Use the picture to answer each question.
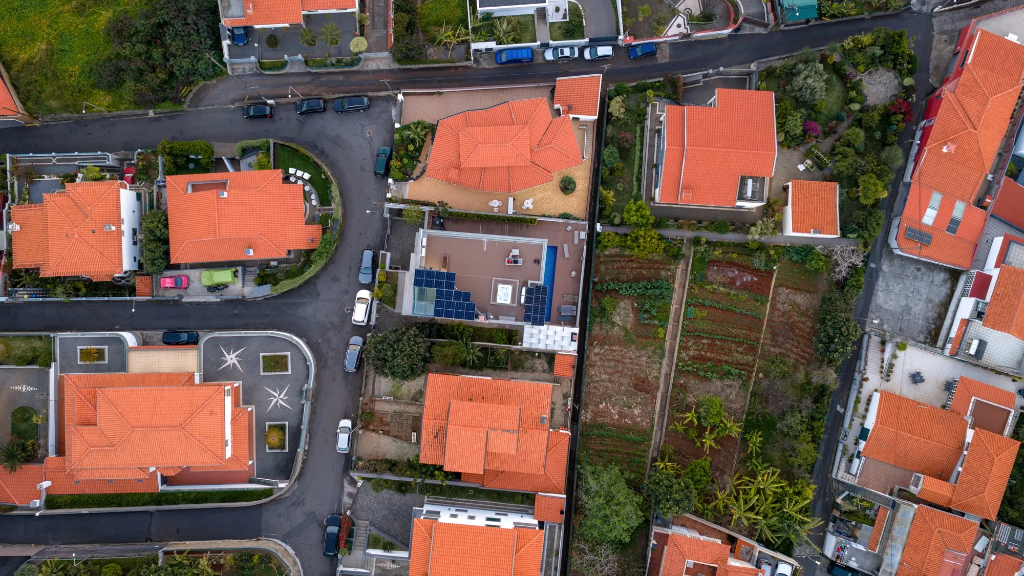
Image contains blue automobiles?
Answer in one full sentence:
Yes, a blue automobile appears in the view.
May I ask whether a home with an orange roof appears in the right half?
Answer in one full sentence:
Yes, a home with an orange roof is visible in the right half.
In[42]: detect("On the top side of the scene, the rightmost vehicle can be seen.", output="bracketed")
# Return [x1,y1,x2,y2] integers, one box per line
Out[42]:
[627,43,657,61]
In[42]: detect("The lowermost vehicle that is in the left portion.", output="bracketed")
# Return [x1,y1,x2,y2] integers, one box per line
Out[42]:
[322,512,343,557]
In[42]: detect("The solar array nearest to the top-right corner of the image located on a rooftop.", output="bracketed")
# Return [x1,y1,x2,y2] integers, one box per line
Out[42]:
[905,227,933,246]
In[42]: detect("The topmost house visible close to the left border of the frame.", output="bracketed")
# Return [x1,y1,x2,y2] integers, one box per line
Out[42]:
[0,57,42,128]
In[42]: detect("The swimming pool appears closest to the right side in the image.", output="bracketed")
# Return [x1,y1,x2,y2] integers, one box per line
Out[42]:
[545,246,557,322]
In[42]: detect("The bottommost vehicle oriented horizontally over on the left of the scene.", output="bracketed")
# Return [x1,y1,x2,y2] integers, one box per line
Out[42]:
[161,329,201,345]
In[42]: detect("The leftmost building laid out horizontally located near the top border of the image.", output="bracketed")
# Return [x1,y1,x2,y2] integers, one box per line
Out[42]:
[221,0,359,65]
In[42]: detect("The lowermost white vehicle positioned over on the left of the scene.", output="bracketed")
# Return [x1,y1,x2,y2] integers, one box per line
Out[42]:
[336,418,354,452]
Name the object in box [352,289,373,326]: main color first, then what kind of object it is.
white car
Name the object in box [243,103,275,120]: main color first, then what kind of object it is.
black car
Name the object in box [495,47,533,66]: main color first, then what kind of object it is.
blue vehicle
